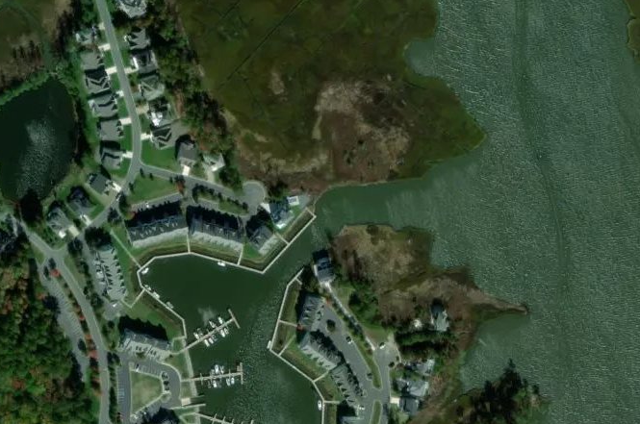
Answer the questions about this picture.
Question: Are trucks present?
No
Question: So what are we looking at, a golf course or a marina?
marina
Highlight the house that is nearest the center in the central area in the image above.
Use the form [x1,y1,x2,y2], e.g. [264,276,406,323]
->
[269,197,298,229]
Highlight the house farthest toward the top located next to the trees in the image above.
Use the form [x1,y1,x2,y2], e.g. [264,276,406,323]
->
[115,0,148,17]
